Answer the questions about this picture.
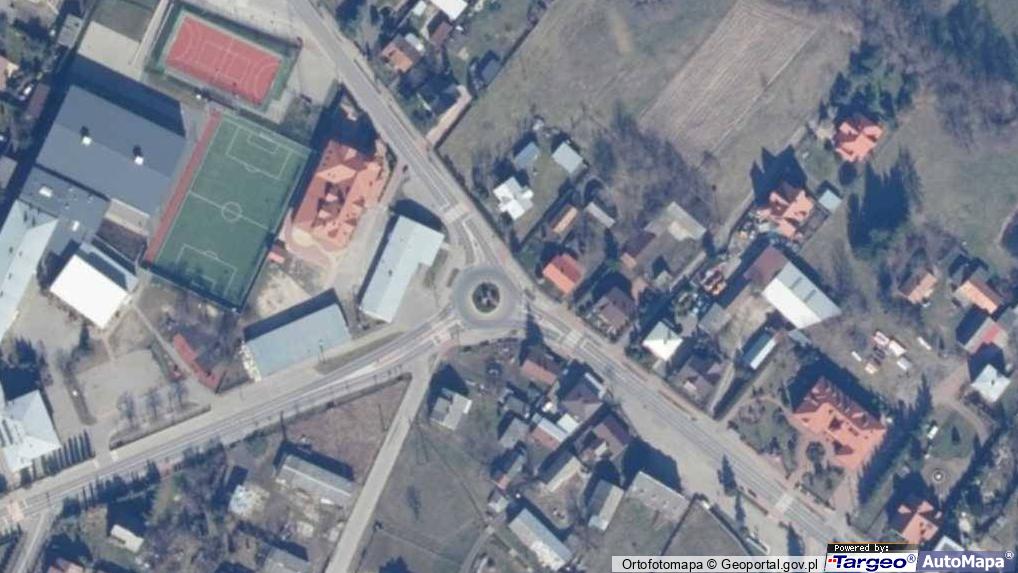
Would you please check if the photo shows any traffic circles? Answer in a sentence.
Yes, there's a traffic circle here.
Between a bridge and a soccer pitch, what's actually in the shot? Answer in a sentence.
This aerial view contains a soccer pitch.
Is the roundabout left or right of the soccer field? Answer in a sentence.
Looking at the picture, you'll find the roundabout to the right of the soccer field.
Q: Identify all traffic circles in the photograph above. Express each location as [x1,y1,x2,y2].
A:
[453,265,519,330]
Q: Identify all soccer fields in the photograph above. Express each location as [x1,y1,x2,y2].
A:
[142,108,311,309]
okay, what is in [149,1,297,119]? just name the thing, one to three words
sports court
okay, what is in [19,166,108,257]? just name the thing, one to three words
building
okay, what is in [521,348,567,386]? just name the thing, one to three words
house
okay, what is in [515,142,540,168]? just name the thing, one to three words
shed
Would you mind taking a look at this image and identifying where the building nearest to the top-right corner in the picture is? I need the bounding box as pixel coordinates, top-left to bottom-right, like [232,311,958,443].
[837,116,886,162]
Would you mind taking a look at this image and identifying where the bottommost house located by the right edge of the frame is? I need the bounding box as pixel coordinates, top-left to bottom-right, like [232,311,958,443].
[934,537,969,571]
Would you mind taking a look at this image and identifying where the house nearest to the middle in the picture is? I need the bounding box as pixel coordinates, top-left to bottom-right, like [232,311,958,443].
[543,253,585,294]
